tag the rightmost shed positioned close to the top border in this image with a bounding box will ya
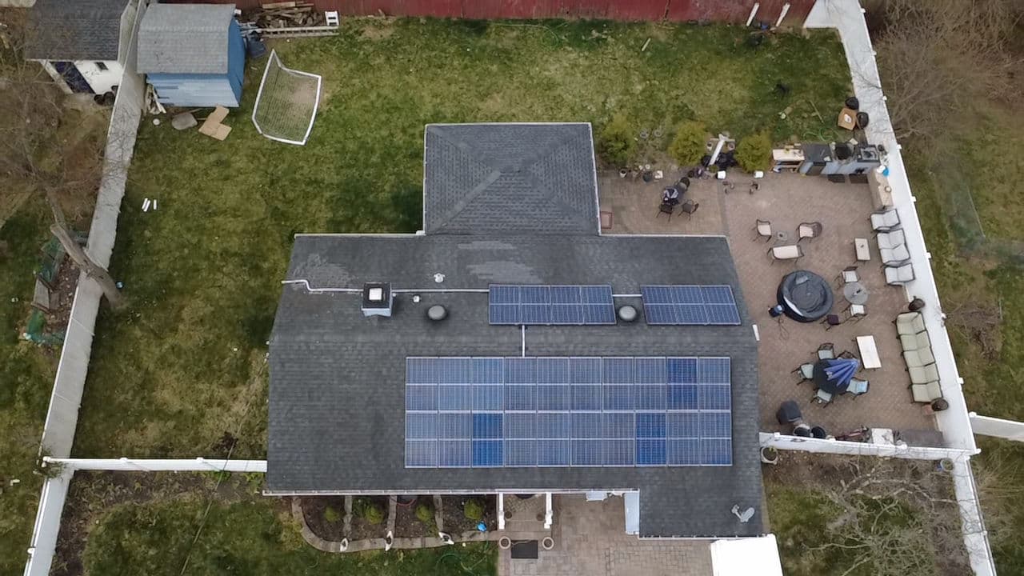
[140,6,249,106]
